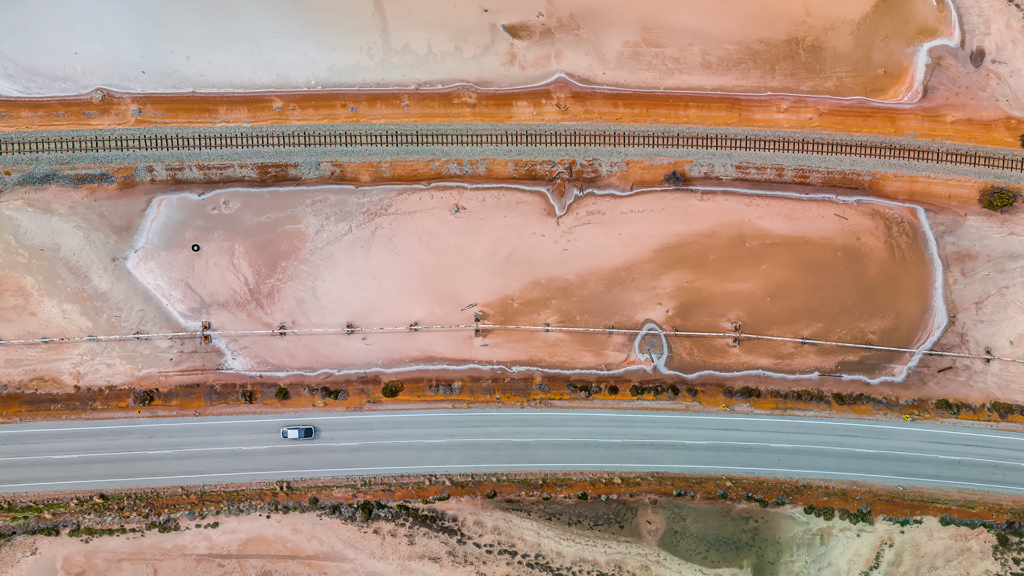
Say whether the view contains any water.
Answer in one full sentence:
Yes, some water is visible.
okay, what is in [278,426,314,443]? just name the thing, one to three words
car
